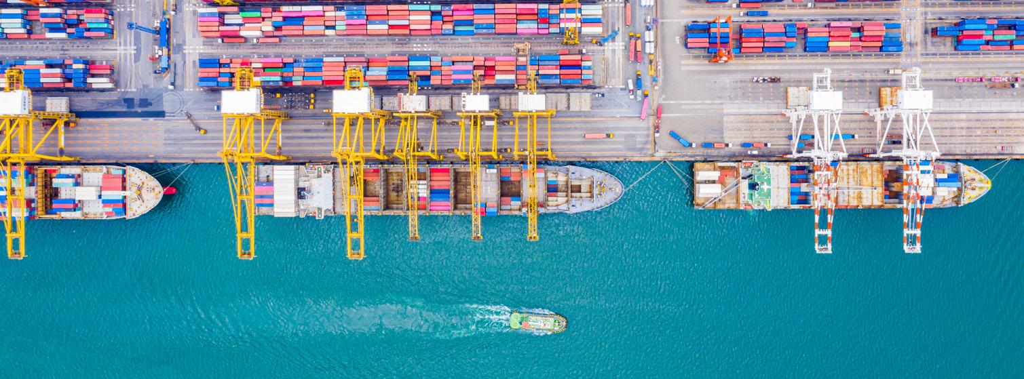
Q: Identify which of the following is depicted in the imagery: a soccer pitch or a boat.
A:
boat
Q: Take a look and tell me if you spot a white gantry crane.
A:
Yes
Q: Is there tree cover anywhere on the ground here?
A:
No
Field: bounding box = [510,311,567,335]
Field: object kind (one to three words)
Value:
boat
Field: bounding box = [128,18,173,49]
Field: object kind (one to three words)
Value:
crane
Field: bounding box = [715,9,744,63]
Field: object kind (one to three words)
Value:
container crane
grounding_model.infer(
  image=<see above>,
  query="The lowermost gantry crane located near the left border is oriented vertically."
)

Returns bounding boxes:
[0,65,80,259]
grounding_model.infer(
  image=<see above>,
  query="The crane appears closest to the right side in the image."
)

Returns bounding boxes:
[855,68,943,253]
